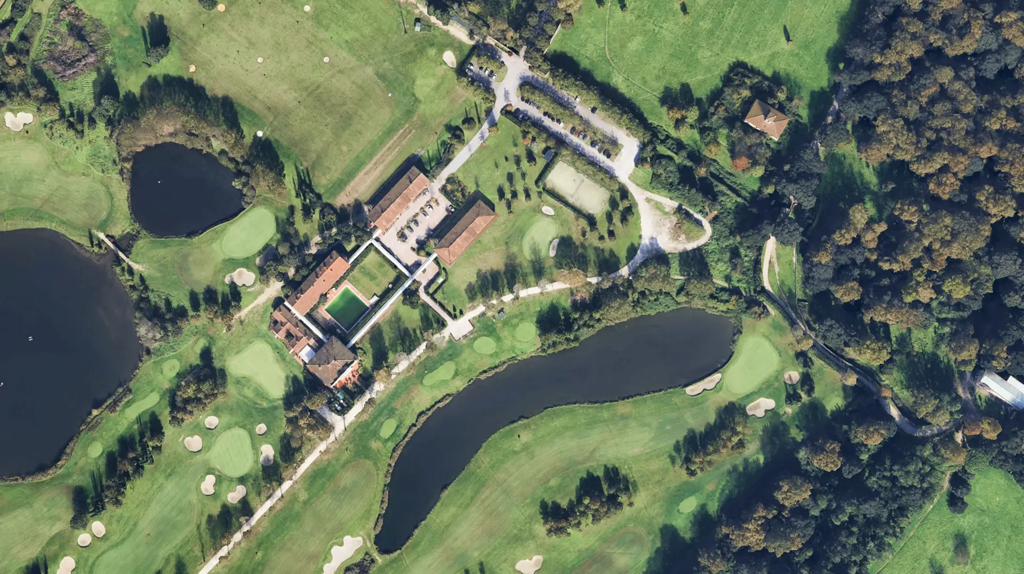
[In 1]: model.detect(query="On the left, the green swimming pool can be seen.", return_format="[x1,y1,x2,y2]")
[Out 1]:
[319,280,373,334]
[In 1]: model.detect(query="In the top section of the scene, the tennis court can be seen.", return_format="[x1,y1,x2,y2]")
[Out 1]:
[545,161,609,214]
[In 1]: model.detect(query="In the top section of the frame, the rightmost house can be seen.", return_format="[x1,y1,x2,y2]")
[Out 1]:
[745,99,789,139]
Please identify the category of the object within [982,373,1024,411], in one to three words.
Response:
shed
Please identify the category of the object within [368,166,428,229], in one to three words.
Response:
barn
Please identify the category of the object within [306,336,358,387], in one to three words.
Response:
building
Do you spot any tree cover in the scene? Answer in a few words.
Yes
